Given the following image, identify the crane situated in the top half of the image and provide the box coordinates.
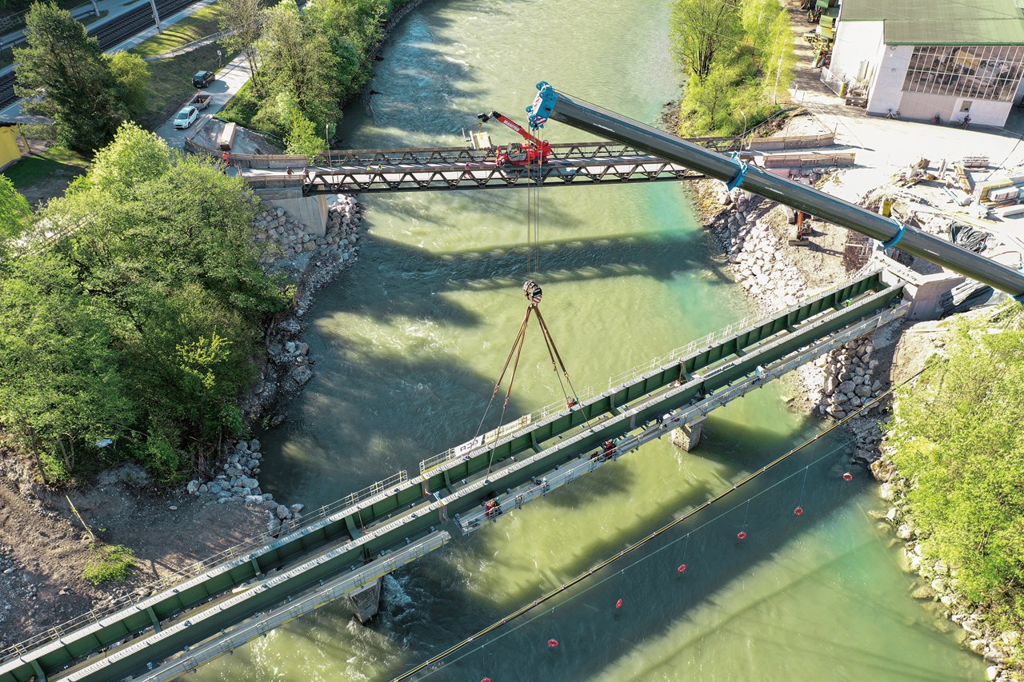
[522,80,1024,308]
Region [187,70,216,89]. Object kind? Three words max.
car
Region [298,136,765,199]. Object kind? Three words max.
bridge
